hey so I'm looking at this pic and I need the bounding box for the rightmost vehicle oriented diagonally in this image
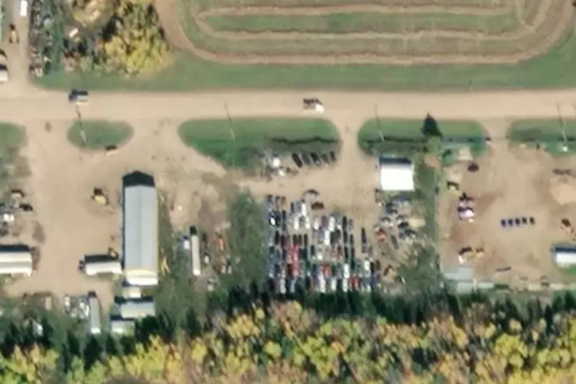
[559,216,576,237]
